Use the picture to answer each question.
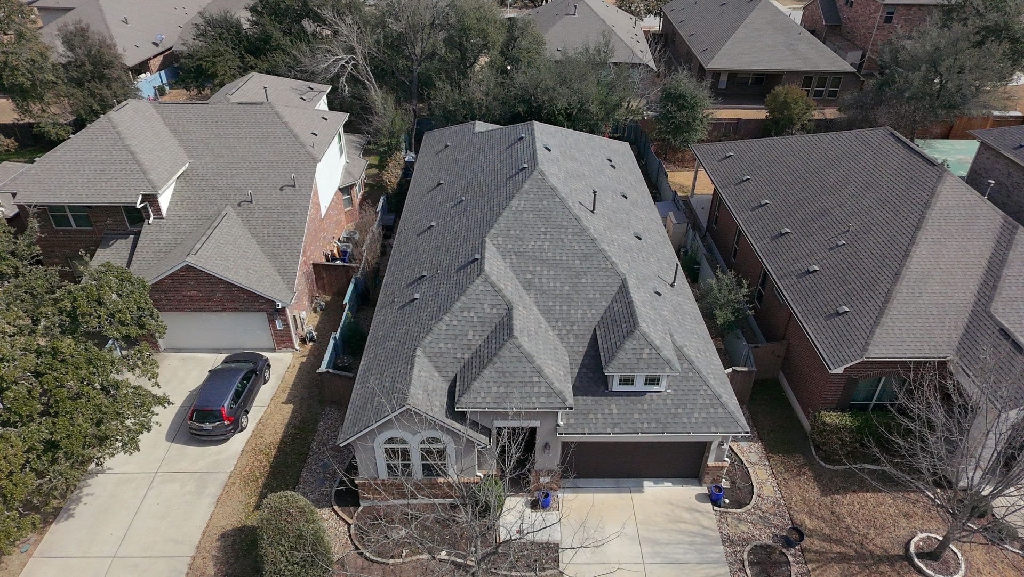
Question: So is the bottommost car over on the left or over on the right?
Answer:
left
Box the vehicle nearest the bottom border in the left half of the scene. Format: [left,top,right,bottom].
[181,355,268,445]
